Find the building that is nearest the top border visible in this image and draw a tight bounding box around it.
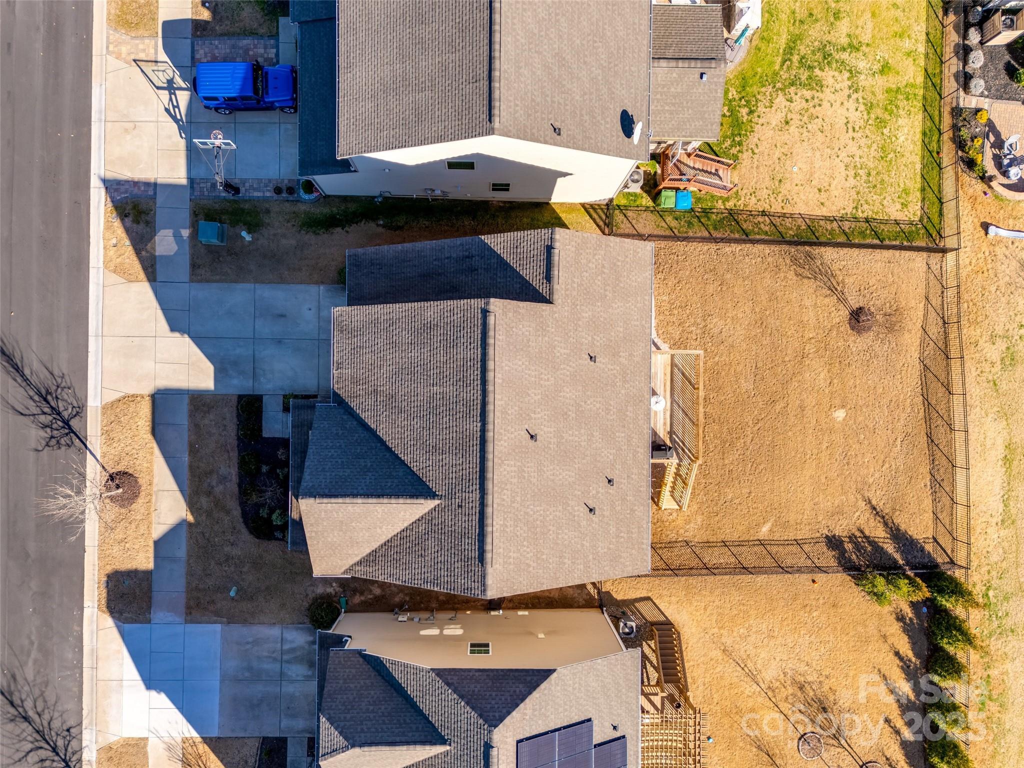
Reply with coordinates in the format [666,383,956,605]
[288,0,727,205]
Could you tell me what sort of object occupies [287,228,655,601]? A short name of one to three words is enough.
house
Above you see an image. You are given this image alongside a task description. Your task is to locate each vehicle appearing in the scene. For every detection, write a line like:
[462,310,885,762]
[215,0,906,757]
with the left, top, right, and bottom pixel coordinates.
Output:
[191,61,296,116]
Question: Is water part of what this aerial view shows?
No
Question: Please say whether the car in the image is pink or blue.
blue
